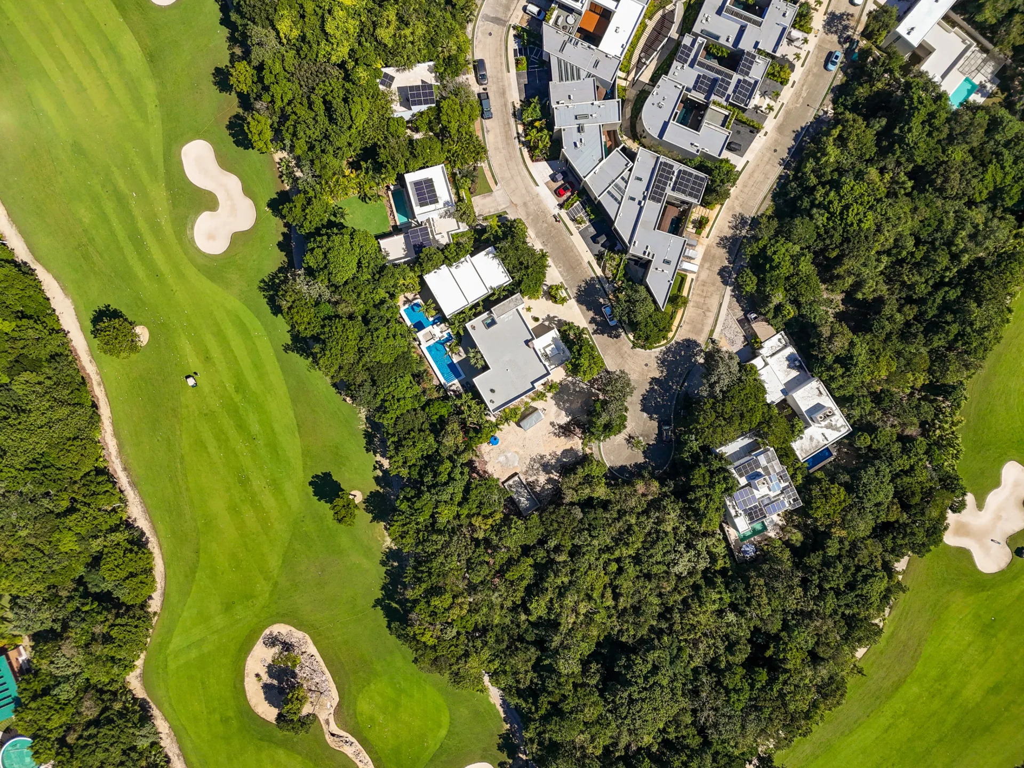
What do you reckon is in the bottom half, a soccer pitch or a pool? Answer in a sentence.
The one visible in the bottom half is a pool.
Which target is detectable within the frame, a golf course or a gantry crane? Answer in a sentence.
Of the two, only a golf course appears.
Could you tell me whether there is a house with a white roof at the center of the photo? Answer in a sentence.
Yes, you'll find a house with a white roof at the center of the photo.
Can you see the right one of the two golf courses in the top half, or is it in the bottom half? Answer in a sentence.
You can find the right one of the two golf courses in the bottom half.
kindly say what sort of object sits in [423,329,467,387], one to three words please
swimming pool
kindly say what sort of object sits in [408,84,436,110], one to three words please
solar array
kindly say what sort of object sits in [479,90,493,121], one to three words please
vehicle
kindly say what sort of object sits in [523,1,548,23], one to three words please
car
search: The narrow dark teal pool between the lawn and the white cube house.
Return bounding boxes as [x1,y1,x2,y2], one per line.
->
[390,188,410,225]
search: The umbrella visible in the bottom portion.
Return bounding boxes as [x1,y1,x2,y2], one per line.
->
[741,542,755,556]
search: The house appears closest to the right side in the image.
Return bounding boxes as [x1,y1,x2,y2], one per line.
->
[879,0,976,88]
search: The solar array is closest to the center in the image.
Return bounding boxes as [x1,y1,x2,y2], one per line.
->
[409,226,432,254]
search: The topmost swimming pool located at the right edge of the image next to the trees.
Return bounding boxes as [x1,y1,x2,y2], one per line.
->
[947,75,982,110]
